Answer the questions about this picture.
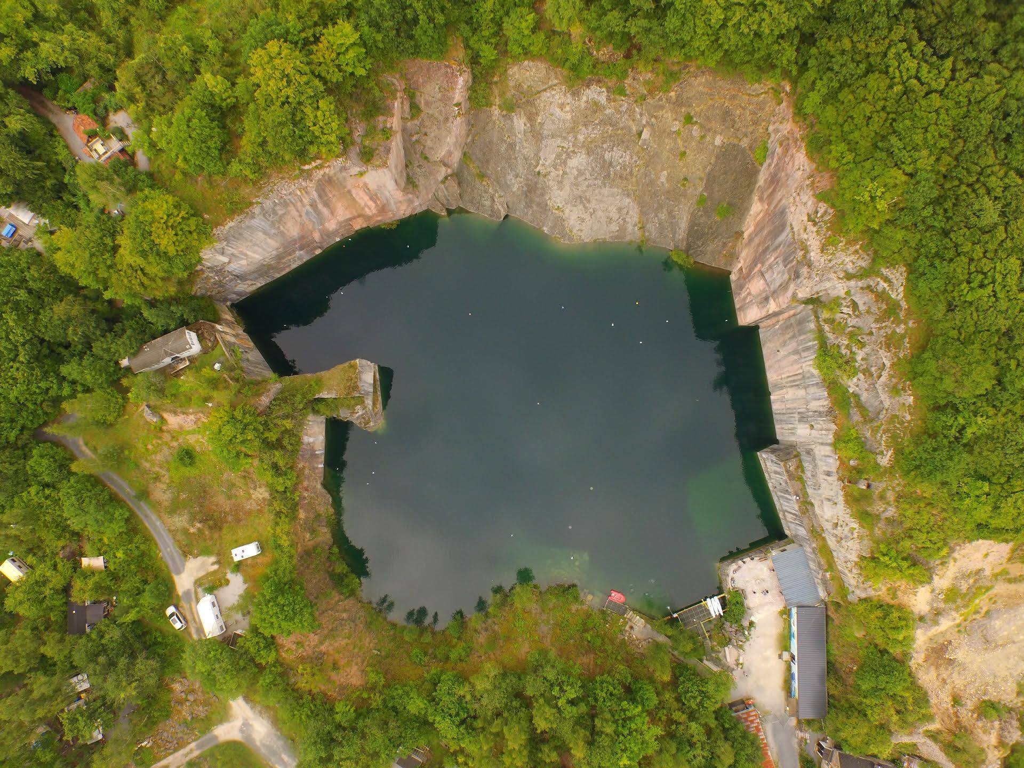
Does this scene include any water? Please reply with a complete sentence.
Yes, there is water in the image.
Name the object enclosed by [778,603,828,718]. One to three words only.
building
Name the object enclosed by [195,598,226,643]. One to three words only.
camper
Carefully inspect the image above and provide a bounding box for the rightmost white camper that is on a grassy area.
[229,544,260,566]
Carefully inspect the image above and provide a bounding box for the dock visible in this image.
[661,592,728,650]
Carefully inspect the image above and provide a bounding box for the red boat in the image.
[609,590,626,602]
